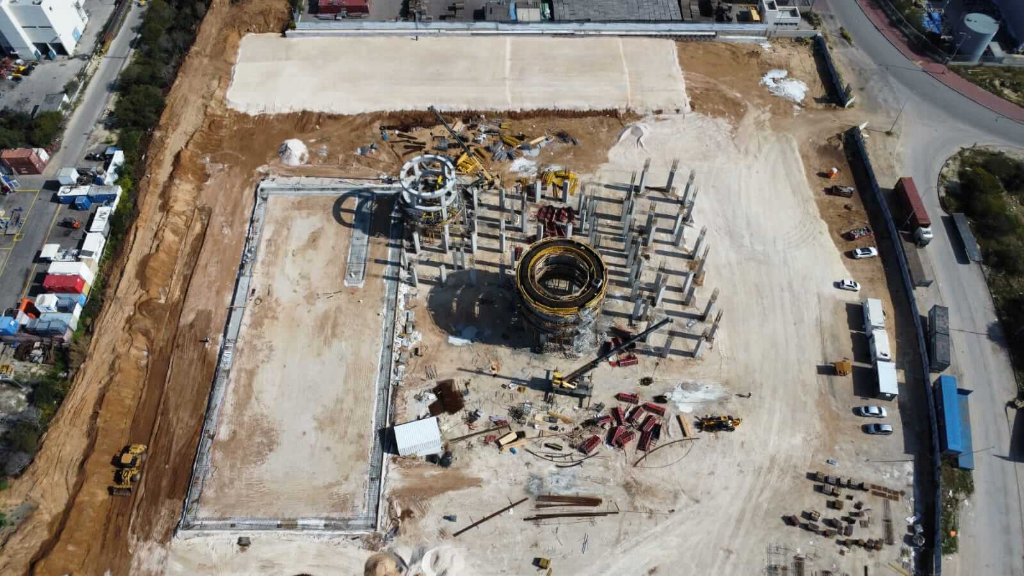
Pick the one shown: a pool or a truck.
truck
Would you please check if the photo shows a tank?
Yes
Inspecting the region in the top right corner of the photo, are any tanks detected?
Yes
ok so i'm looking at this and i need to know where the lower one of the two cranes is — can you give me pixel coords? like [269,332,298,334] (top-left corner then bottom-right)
[542,319,677,407]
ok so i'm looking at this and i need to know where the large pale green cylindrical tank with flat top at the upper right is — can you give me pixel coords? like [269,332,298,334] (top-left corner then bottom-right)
[939,9,1003,68]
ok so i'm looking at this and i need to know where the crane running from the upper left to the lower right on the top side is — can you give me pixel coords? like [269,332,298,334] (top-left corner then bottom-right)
[424,105,519,203]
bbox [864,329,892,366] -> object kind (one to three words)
building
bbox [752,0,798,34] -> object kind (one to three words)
building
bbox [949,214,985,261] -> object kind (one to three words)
trailer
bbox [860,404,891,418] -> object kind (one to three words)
car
